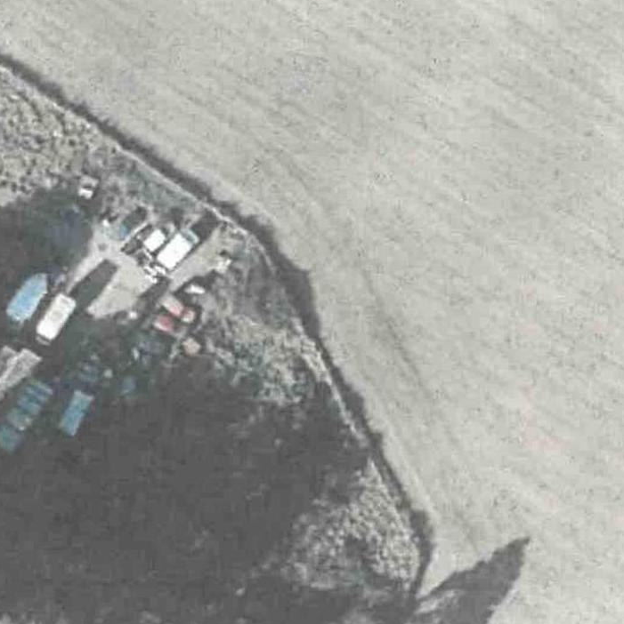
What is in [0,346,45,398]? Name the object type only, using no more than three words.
trailer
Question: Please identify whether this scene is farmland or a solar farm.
farmland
